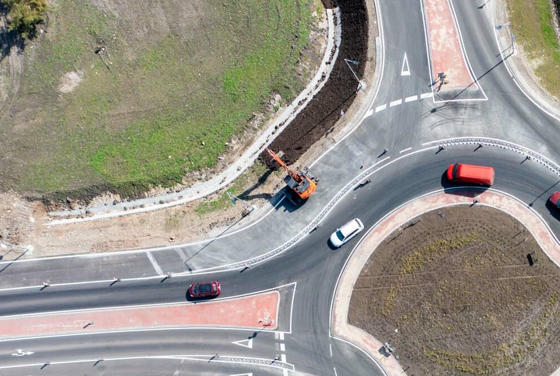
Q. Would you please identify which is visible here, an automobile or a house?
automobile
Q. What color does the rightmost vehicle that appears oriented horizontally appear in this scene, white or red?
red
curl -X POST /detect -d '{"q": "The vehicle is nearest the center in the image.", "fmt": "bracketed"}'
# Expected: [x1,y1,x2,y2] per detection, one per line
[270,150,324,206]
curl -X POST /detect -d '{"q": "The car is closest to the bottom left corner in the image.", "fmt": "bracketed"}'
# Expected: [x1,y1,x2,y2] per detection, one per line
[188,281,223,299]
